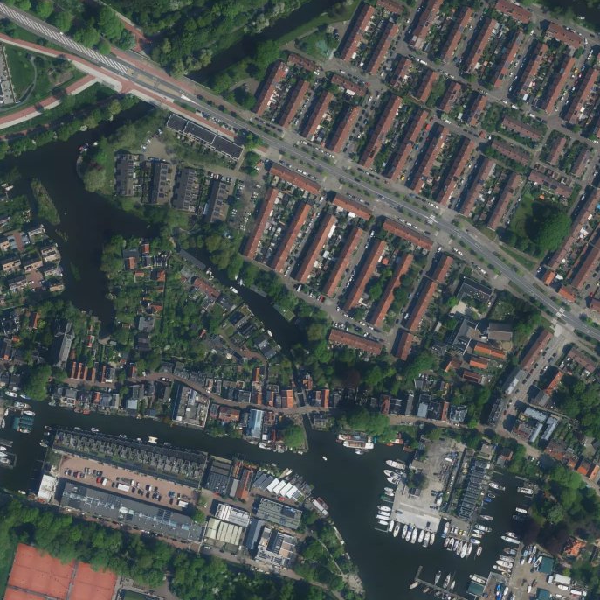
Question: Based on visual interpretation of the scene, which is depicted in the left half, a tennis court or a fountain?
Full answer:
The one visible in the left half is a tennis court.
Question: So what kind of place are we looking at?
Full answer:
This looks like a residential area.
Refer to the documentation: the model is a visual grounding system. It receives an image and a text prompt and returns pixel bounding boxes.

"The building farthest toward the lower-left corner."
[37,475,57,502]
